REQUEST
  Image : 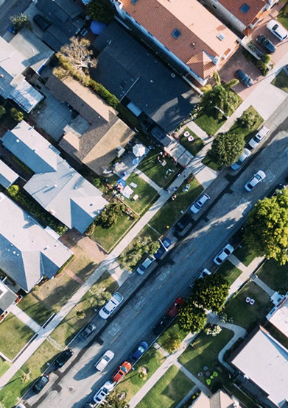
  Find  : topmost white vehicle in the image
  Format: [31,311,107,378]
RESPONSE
[266,21,288,40]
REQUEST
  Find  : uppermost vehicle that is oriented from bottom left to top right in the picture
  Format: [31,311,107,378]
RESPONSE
[249,126,268,147]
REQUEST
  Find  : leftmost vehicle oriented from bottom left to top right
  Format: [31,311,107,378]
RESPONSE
[32,373,52,395]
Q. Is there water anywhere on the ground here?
No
